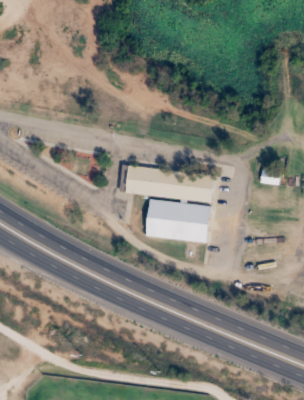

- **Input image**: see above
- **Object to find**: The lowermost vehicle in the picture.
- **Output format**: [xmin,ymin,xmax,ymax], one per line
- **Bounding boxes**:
[232,278,272,292]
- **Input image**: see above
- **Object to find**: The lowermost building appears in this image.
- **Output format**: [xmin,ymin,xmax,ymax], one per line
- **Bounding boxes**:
[146,200,214,243]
